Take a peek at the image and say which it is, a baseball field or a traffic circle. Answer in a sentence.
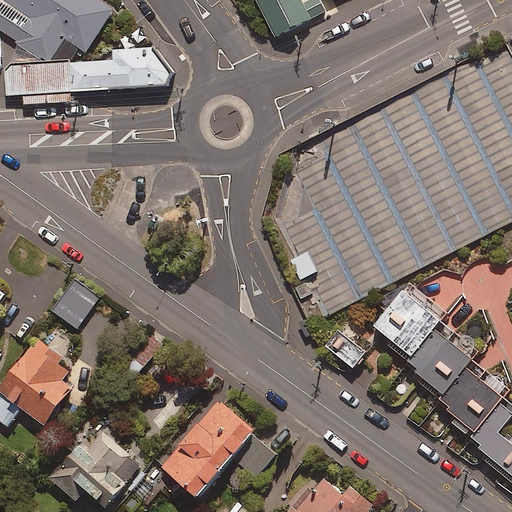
The image shows a traffic circle.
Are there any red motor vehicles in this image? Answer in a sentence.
Yes, the image includes a red motor vehicle.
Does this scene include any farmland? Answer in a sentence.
No, there is no farmland in the image.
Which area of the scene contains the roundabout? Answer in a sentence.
You can find the roundabout in the top area of the picture.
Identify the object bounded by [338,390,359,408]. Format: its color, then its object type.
white car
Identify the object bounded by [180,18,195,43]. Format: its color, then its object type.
gray car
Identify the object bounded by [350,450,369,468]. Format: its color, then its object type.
red car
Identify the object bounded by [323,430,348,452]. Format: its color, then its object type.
white vehicle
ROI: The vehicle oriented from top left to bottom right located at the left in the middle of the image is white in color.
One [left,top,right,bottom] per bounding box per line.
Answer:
[38,226,59,246]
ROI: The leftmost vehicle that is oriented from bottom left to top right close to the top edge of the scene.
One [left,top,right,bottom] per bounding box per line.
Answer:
[318,22,344,43]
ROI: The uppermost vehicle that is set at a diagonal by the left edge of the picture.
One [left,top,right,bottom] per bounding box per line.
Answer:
[0,152,22,170]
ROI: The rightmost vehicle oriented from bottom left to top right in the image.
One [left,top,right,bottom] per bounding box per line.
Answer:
[452,304,473,326]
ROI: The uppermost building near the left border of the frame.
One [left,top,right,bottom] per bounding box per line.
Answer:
[0,0,112,64]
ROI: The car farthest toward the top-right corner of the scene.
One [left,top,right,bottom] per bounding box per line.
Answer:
[414,58,435,73]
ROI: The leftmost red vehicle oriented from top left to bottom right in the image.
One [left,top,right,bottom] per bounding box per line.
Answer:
[62,243,84,262]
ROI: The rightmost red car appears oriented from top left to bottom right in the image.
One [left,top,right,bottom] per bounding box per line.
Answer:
[440,459,462,478]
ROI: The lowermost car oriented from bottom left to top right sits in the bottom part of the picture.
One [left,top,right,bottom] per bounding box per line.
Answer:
[271,428,290,450]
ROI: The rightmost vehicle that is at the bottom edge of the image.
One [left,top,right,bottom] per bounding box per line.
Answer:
[467,478,486,496]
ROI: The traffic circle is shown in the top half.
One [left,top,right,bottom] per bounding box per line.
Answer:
[200,94,254,149]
